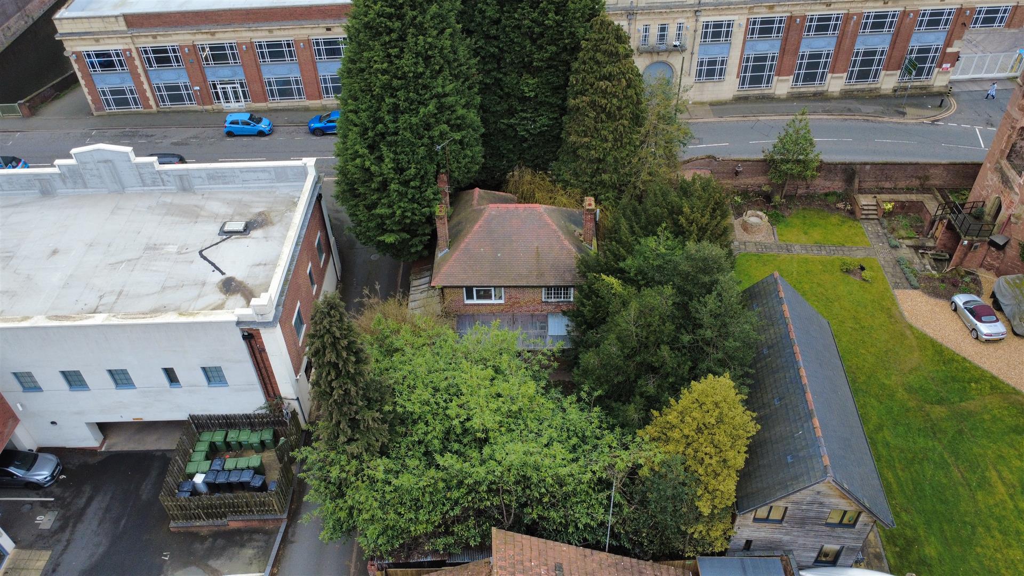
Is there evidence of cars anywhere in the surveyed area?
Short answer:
Yes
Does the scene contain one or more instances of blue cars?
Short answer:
Yes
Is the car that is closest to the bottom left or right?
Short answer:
left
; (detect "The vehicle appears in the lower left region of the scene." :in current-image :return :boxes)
[0,445,61,490]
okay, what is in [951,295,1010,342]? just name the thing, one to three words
car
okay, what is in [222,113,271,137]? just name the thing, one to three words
car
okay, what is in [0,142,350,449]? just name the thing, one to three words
building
